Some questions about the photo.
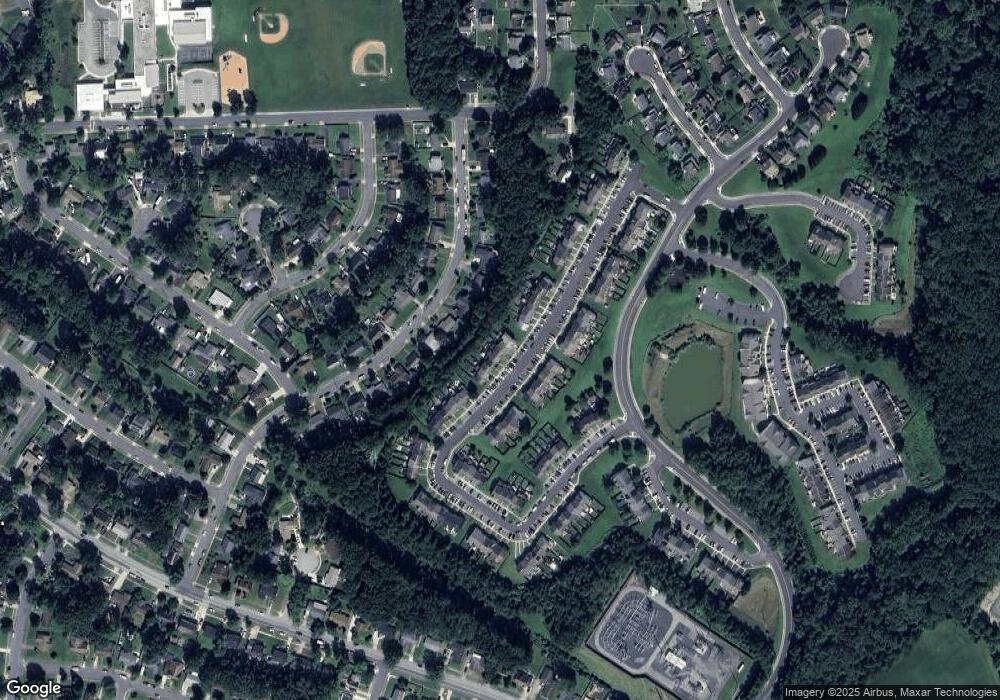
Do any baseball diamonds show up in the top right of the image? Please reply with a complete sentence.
No, there is no baseball diamond in the top right of the image.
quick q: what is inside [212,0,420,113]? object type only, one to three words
sports field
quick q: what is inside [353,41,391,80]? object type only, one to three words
baseball field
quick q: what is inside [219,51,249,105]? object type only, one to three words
playground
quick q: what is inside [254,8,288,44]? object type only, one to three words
baseball field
